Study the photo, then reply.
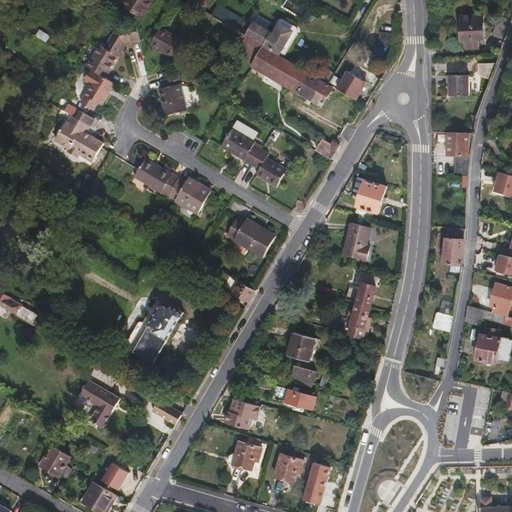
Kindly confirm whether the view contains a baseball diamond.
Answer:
No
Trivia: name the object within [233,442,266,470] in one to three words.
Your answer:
house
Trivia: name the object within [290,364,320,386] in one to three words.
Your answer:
building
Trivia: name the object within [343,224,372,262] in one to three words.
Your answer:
house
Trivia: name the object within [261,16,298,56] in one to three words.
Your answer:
building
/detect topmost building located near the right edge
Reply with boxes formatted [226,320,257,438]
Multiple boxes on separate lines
[458,18,487,52]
